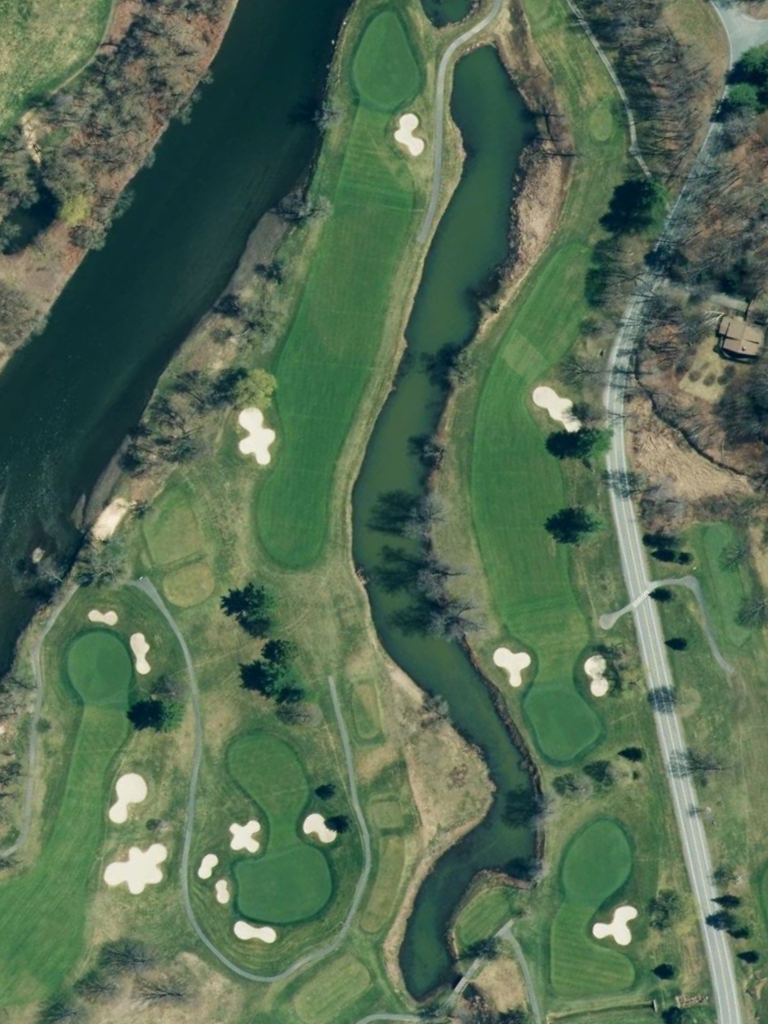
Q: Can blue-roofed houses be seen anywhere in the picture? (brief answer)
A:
No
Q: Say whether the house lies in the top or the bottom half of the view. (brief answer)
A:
top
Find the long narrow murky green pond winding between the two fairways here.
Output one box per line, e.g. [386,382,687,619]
[349,44,539,999]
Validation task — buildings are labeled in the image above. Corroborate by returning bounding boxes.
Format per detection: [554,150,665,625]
[715,316,766,361]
